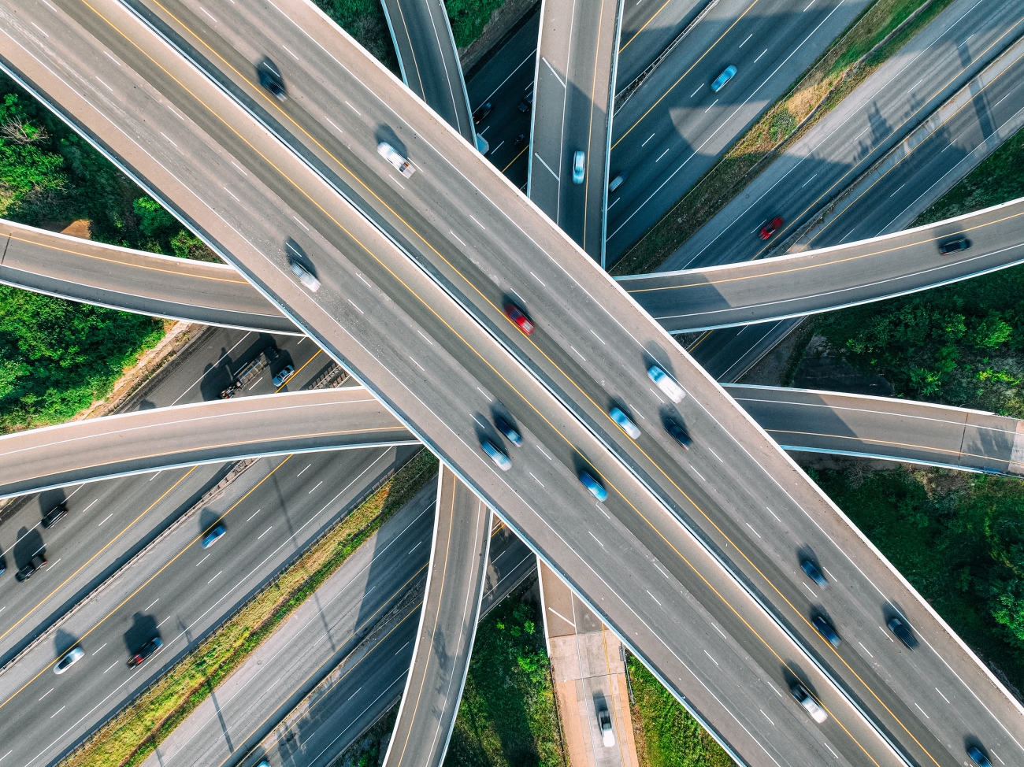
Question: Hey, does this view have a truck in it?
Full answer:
Yes, I can see a truck in this picture.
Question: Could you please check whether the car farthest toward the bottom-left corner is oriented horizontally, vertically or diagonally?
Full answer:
The car farthest toward the bottom-left corner runs diagonally in the image.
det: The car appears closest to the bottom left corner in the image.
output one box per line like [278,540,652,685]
[55,647,84,673]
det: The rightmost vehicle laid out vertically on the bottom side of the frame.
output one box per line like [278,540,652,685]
[596,704,614,744]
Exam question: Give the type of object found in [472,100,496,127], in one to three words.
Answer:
car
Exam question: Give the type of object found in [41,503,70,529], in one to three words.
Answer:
car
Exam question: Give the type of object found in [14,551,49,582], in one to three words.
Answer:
truck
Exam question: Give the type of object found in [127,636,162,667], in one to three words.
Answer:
truck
